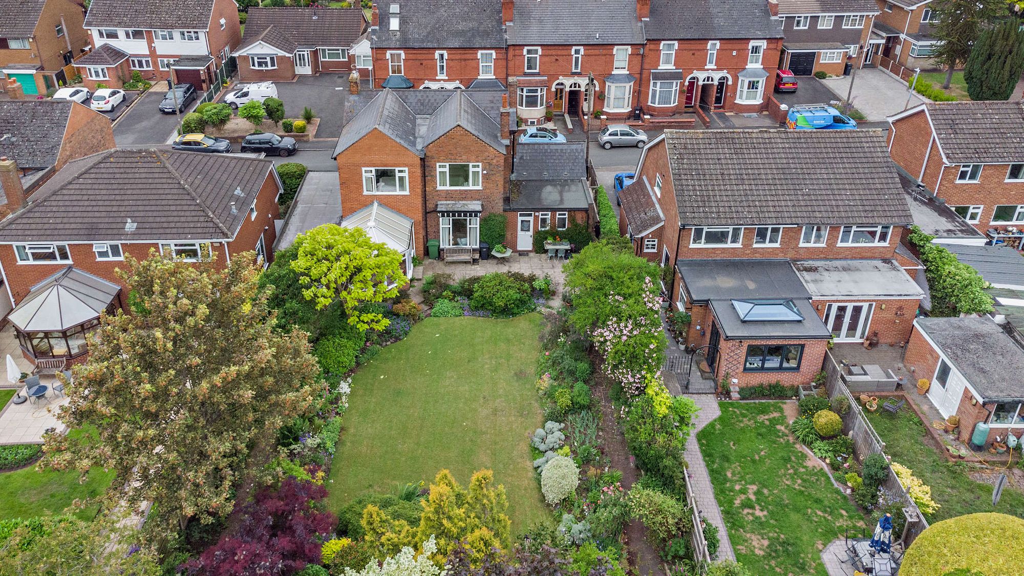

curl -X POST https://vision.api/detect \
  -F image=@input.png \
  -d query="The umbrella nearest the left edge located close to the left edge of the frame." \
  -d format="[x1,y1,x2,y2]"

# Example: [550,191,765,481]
[0,355,26,405]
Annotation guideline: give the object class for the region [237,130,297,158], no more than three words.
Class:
car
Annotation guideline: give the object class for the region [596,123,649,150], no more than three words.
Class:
car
